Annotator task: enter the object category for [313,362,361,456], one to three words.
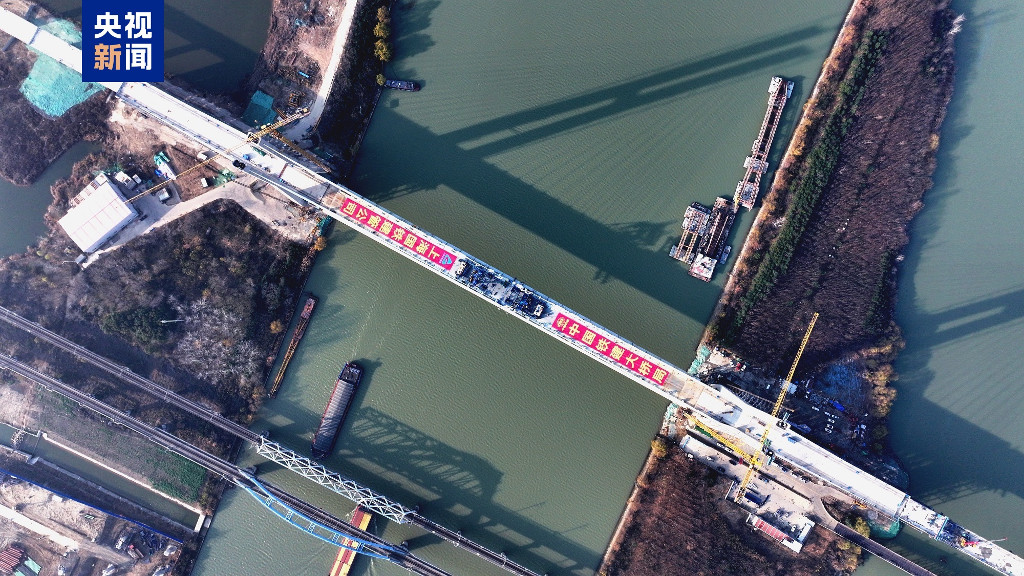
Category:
ship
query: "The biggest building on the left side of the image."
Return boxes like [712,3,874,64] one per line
[59,182,138,252]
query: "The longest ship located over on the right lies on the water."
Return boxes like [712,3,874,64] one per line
[692,198,735,280]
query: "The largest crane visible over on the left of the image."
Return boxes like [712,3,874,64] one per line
[124,110,337,204]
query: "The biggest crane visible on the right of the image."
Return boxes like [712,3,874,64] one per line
[680,313,818,503]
